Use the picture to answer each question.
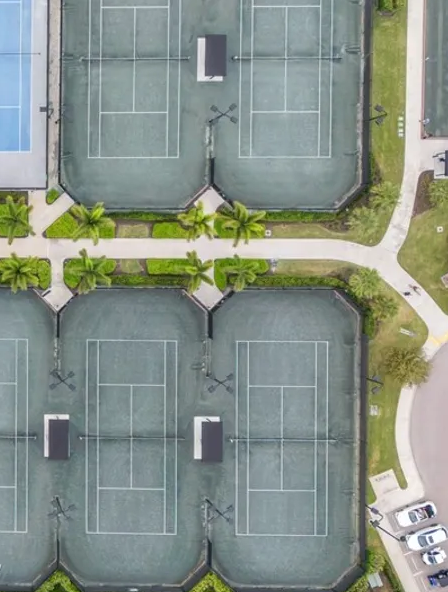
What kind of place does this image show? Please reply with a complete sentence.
This image shows a sports ground.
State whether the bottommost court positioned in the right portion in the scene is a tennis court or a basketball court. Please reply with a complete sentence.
What you see as the bottommost court positioned in the right portion is a tennis court.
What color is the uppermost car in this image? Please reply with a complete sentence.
The uppermost car is white.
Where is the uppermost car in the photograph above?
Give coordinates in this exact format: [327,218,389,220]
[392,498,439,525]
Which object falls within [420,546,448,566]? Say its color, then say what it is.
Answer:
white car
